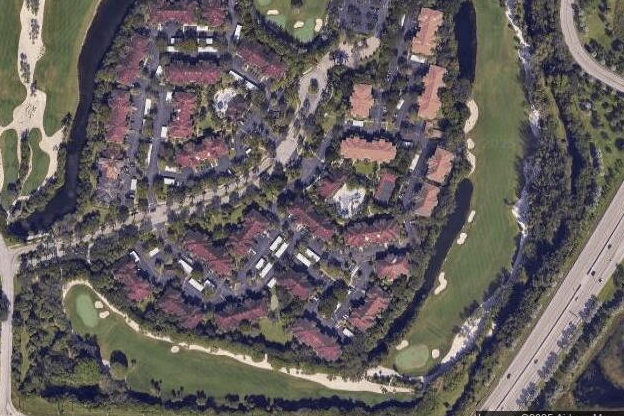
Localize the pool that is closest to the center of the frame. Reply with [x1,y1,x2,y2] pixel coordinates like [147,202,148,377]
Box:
[333,184,366,219]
